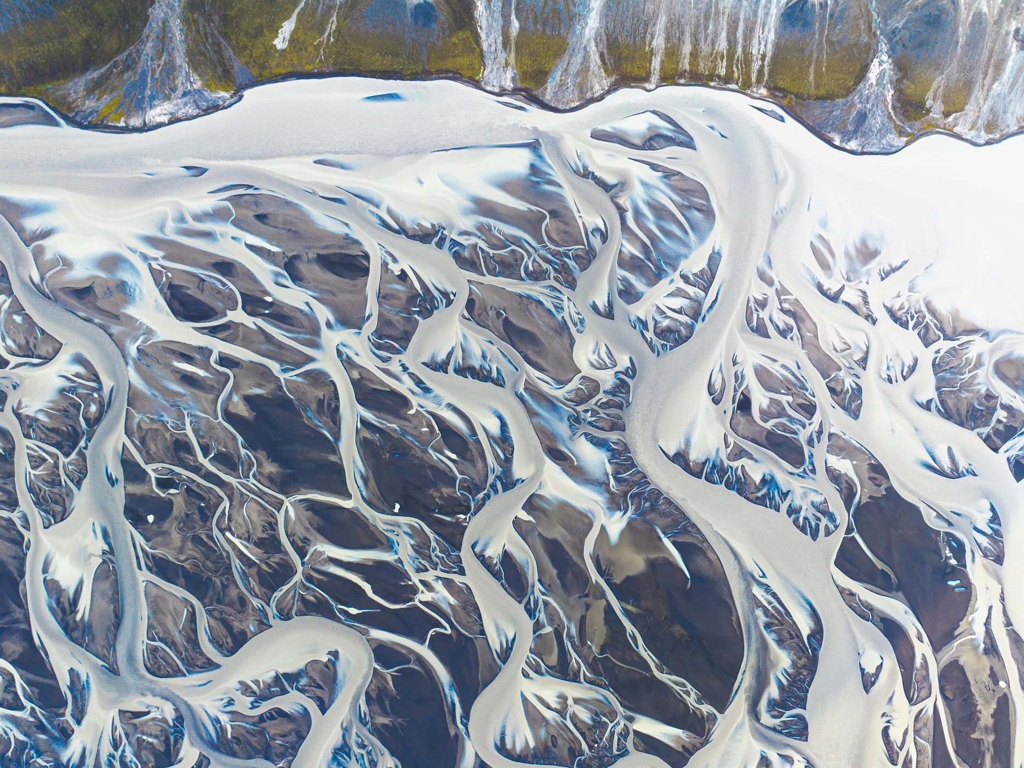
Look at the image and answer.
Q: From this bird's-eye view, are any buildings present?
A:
Yes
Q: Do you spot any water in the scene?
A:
Yes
